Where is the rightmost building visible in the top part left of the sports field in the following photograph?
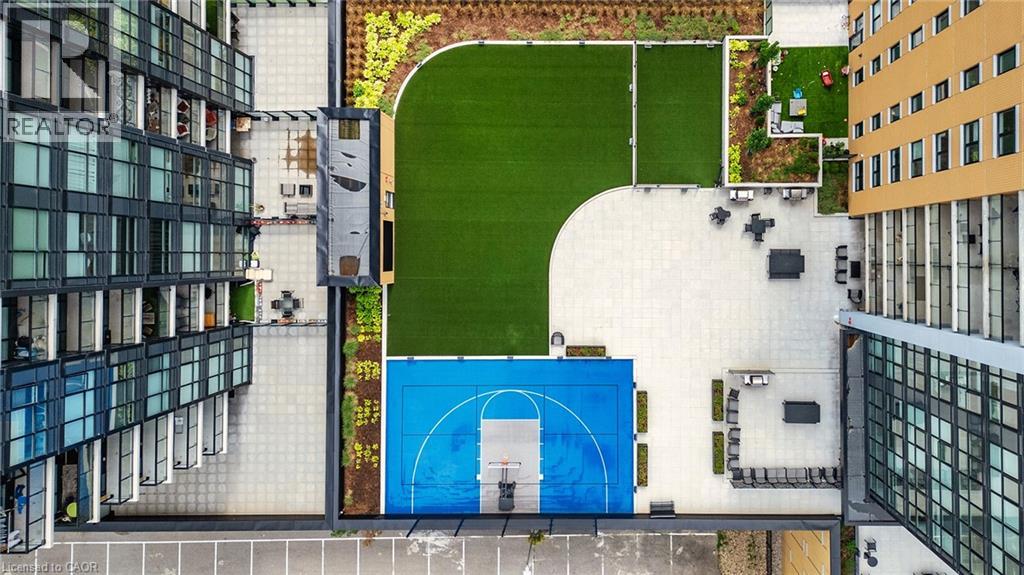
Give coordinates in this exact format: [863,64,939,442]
[318,109,394,286]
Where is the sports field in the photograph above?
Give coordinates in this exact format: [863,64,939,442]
[388,39,633,356]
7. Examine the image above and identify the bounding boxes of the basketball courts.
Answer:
[386,361,634,515]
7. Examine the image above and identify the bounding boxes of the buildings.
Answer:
[833,0,1024,575]
[0,0,254,559]
[318,109,394,286]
